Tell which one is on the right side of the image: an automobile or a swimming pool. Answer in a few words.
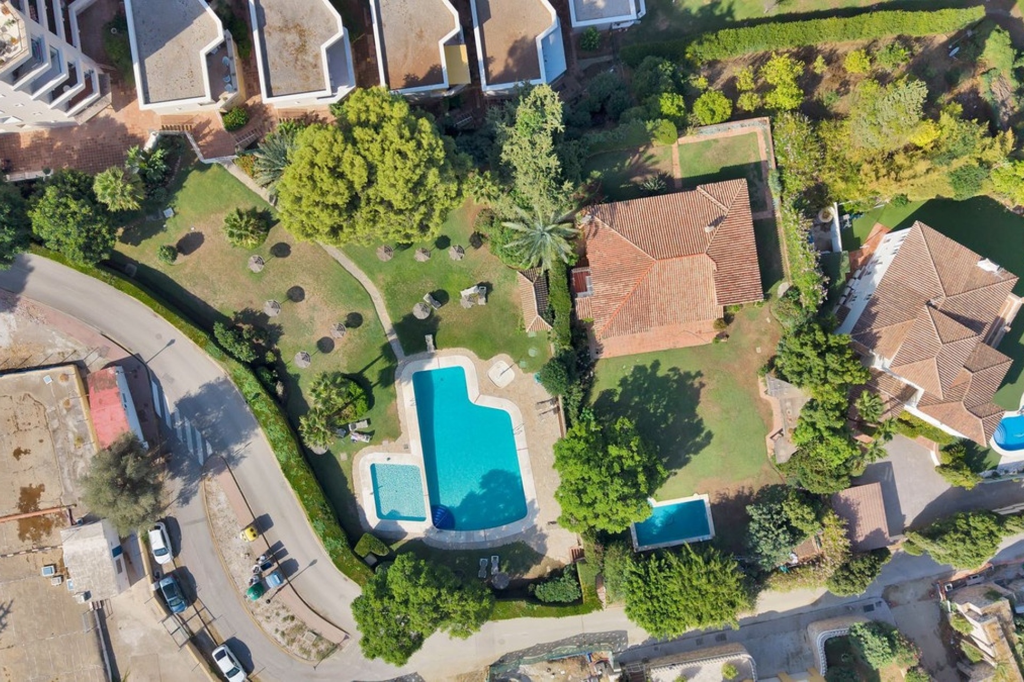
swimming pool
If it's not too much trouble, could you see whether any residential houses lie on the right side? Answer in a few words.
Yes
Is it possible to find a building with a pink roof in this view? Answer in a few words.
Yes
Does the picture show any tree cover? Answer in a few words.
Yes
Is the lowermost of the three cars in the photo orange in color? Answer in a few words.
No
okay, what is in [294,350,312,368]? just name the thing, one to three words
umbrella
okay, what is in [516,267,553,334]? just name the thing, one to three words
shed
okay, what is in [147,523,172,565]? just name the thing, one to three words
car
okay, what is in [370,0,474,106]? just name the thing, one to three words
house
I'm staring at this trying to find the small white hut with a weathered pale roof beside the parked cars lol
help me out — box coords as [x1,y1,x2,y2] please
[60,518,132,603]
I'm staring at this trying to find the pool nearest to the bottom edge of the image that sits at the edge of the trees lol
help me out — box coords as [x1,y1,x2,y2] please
[629,495,715,552]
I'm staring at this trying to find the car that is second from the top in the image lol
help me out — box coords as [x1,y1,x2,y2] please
[158,574,188,614]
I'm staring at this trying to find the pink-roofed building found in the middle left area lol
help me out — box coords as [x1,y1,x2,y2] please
[88,366,152,450]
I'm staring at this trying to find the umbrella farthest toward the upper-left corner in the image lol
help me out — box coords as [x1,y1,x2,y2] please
[248,255,266,273]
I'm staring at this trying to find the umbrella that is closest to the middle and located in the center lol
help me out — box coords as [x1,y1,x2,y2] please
[460,291,478,308]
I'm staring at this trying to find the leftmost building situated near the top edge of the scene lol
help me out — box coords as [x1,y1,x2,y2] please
[0,0,108,131]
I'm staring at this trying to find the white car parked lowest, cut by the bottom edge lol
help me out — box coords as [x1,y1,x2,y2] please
[211,645,245,682]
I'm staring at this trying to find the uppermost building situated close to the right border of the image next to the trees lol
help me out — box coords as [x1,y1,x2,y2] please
[840,221,1024,448]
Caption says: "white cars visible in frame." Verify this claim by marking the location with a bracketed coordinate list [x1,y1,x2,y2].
[147,523,172,565]
[211,645,245,682]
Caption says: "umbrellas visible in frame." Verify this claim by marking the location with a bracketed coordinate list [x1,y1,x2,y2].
[413,245,430,263]
[412,302,430,320]
[377,245,395,262]
[330,321,349,340]
[248,255,266,273]
[460,291,478,308]
[313,441,329,455]
[294,350,312,368]
[447,243,464,261]
[264,299,282,317]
